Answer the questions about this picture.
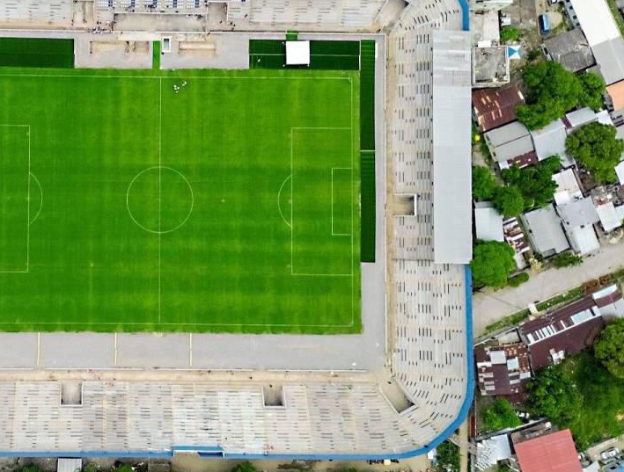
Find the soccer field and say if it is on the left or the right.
left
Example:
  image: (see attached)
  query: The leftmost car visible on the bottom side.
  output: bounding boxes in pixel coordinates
[578,449,590,463]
